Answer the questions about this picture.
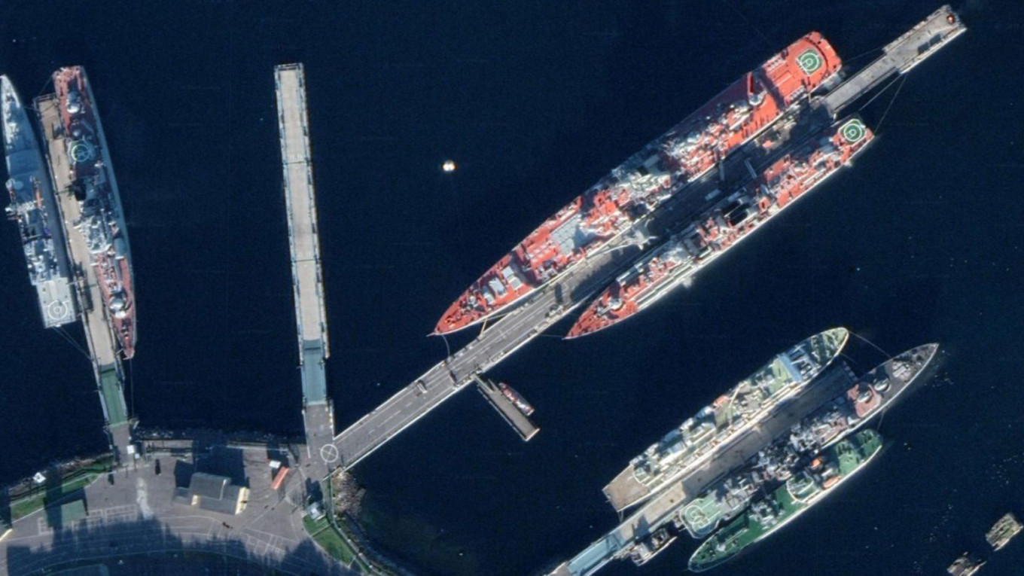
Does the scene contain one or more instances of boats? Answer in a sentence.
Yes, there is a boat in the image.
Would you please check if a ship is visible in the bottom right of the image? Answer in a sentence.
Yes, looking in the bottom right of the image, one can make out a ship.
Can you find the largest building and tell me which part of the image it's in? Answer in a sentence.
You can find the largest building in the bottom left area of the picture.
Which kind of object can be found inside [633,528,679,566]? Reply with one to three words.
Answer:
ship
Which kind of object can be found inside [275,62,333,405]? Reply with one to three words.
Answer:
pier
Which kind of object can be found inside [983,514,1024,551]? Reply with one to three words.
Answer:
boat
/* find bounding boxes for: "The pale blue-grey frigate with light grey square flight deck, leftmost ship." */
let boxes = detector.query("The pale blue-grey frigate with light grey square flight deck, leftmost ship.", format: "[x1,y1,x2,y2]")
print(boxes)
[0,74,80,329]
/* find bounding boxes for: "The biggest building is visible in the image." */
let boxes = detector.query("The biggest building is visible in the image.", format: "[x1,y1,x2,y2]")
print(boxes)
[173,472,248,514]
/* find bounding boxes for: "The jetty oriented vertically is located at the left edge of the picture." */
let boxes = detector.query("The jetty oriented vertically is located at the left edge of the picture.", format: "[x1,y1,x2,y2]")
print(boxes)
[34,92,140,468]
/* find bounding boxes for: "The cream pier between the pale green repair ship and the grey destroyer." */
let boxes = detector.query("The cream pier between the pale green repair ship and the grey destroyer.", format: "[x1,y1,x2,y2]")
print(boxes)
[565,357,861,576]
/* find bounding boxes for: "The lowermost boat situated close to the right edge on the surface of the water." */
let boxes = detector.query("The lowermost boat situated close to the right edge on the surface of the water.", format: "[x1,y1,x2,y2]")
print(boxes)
[945,550,987,576]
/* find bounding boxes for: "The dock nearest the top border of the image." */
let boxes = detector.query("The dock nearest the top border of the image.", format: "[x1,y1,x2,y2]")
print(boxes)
[883,5,964,76]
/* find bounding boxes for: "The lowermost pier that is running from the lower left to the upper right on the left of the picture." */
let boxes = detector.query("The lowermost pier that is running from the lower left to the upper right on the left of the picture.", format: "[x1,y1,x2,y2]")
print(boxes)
[329,353,466,469]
